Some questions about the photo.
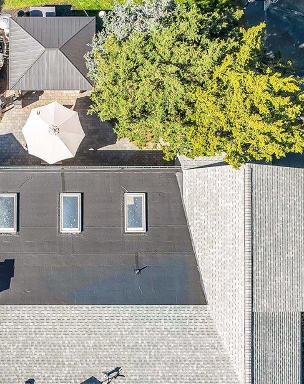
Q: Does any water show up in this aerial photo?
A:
No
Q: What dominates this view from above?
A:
buildings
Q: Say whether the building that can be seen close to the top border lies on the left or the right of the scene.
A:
left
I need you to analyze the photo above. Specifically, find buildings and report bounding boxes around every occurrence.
[9,15,95,102]
[0,154,304,384]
